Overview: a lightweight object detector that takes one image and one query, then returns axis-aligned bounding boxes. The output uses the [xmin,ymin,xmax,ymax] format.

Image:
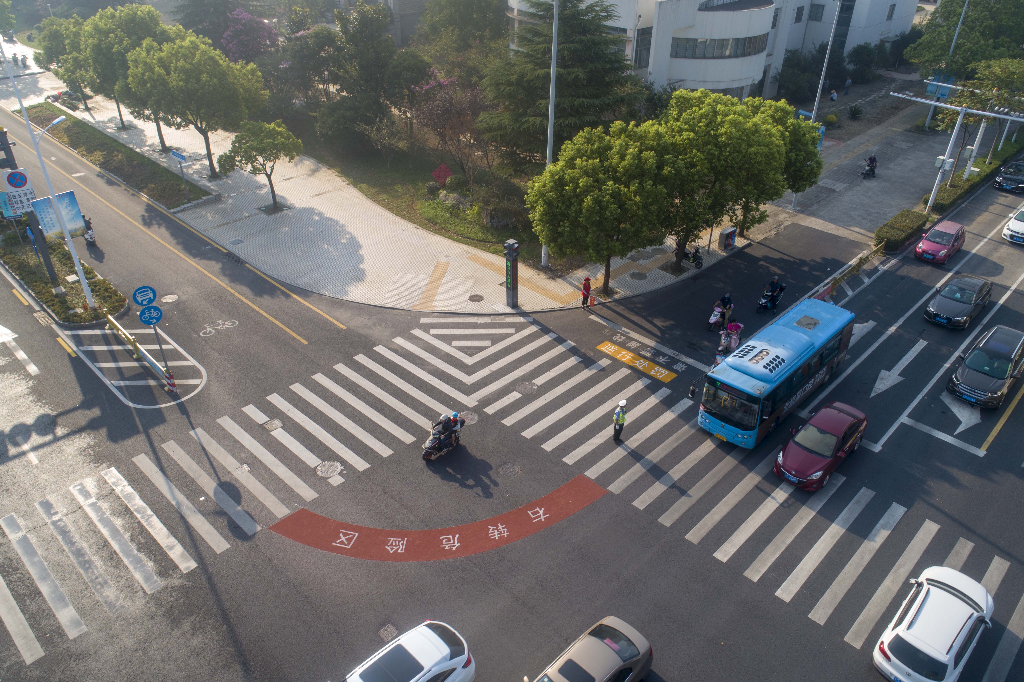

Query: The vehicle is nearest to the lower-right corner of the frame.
[865,565,987,682]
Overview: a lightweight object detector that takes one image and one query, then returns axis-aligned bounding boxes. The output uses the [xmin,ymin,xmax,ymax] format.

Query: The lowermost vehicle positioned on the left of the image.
[337,620,481,682]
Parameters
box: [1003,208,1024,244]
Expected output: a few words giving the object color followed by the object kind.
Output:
white car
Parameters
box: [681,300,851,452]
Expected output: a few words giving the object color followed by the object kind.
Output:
blue bus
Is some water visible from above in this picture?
No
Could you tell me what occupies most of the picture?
paved ground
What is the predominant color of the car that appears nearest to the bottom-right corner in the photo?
white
